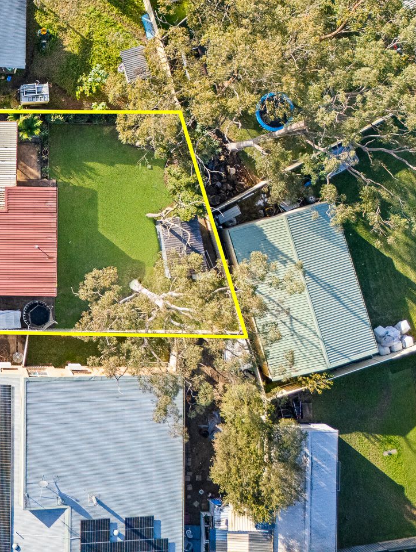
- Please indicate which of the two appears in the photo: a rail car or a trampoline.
trampoline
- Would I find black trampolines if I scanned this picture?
Yes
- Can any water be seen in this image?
No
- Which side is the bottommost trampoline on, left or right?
left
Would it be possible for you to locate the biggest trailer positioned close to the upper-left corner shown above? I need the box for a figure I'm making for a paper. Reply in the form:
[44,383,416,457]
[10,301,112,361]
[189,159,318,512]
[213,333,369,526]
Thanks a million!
[20,78,63,106]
